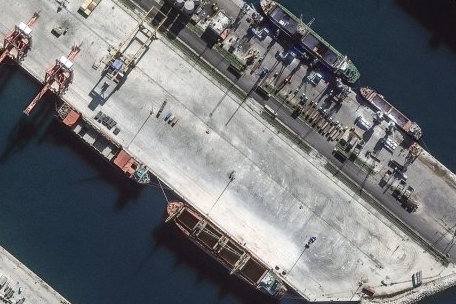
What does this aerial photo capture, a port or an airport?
port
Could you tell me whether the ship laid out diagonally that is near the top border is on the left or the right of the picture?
right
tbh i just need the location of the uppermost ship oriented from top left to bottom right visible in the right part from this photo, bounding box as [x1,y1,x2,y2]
[262,2,361,85]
